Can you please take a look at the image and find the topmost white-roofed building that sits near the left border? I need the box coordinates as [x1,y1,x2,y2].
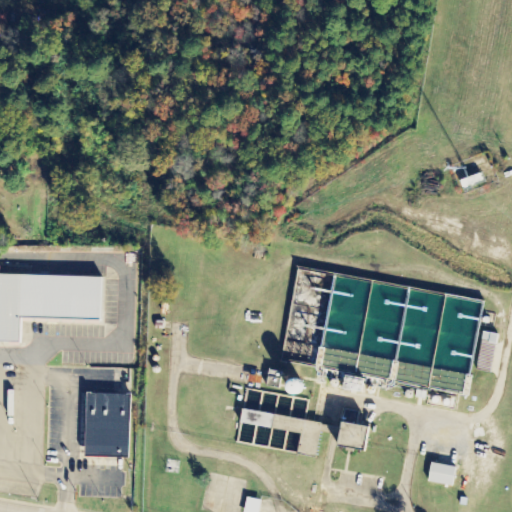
[0,274,106,343]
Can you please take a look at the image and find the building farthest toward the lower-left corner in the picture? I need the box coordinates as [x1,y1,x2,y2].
[85,392,132,458]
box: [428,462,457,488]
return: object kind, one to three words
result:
building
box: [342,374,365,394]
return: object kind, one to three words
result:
building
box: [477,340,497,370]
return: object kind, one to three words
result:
shed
